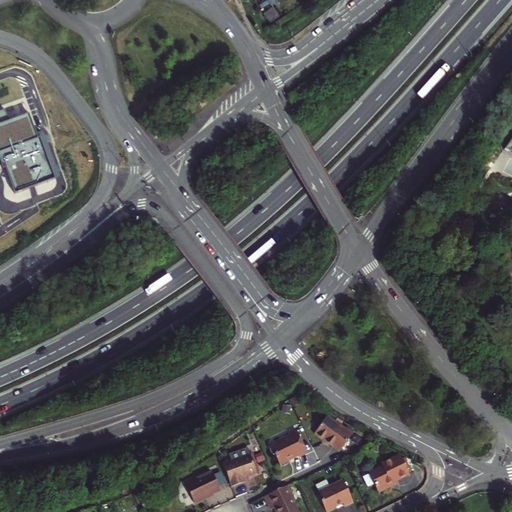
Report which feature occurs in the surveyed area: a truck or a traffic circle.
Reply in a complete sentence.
I can see a truck in this picture.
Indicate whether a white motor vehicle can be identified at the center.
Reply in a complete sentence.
Yes, the scene does show a white motor vehicle at the center.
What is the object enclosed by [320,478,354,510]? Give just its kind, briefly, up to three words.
house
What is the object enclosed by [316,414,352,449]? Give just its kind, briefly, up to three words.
house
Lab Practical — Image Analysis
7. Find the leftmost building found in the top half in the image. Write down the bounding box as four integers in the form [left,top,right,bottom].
[0,107,54,190]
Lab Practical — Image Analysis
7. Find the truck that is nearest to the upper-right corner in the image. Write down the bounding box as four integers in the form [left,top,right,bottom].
[417,62,452,98]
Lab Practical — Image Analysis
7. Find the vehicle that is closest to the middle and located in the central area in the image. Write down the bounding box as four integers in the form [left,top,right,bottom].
[248,238,274,262]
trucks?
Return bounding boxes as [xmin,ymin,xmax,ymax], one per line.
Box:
[248,238,274,262]
[417,62,452,98]
[144,274,174,295]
